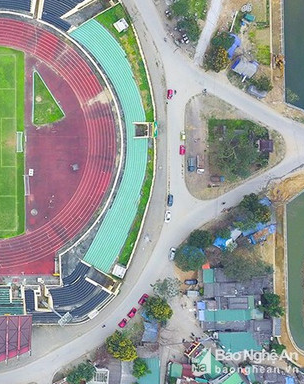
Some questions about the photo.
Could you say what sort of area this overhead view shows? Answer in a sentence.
What you see here is a sports ground.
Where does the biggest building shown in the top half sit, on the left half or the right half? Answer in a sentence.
You can find the biggest building shown in the top half on the right side of the picture.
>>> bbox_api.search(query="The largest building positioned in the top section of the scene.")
[230,55,256,78]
